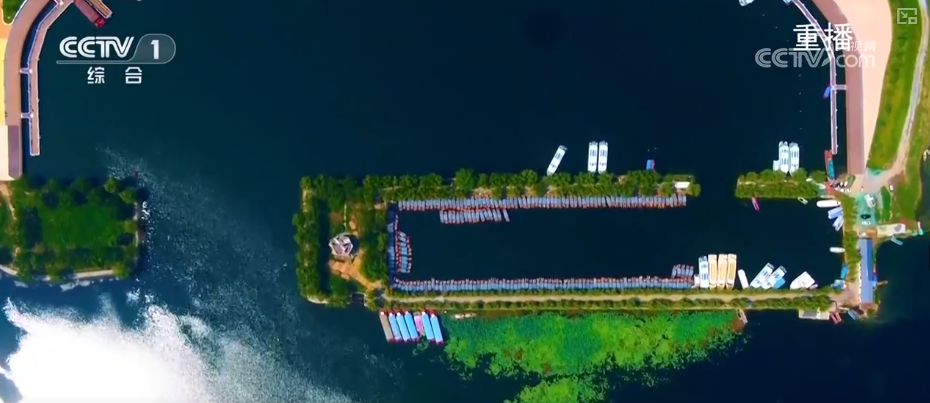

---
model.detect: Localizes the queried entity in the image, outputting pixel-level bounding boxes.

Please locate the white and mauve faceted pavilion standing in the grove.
[330,233,354,257]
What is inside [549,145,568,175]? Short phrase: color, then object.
white ship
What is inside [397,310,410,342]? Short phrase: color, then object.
blue boat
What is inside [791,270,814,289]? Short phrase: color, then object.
white boat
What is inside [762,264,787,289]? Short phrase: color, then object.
white ship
